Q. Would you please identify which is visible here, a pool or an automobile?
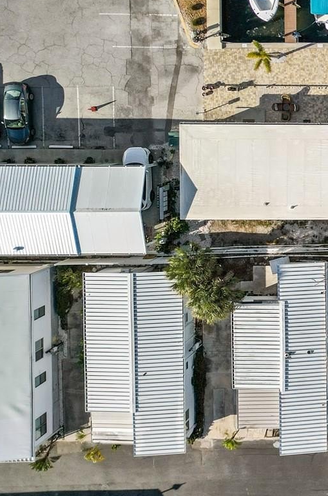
automobile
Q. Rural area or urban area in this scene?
urban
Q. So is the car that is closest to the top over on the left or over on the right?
left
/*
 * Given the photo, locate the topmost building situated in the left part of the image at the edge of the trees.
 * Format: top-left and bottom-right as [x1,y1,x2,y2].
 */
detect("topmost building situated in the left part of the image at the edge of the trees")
[0,164,166,257]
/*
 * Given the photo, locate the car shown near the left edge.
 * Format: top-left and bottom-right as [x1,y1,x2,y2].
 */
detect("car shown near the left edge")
[1,82,36,143]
